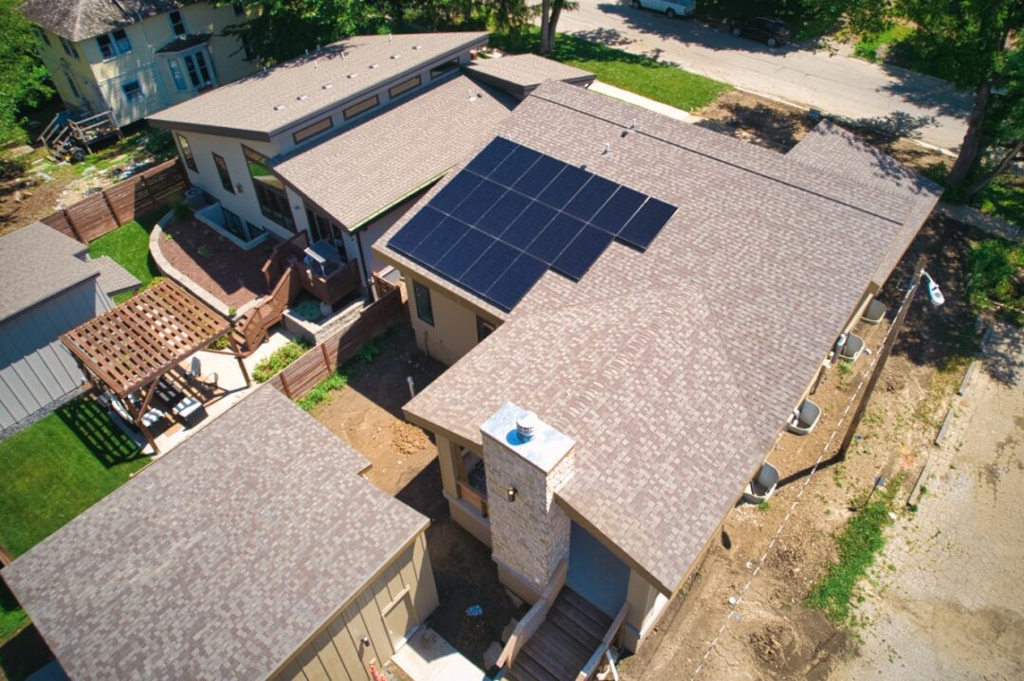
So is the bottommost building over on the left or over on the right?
left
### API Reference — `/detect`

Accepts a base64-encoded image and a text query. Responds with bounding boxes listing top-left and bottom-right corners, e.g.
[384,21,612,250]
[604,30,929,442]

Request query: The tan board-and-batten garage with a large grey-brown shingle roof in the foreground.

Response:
[0,384,439,681]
